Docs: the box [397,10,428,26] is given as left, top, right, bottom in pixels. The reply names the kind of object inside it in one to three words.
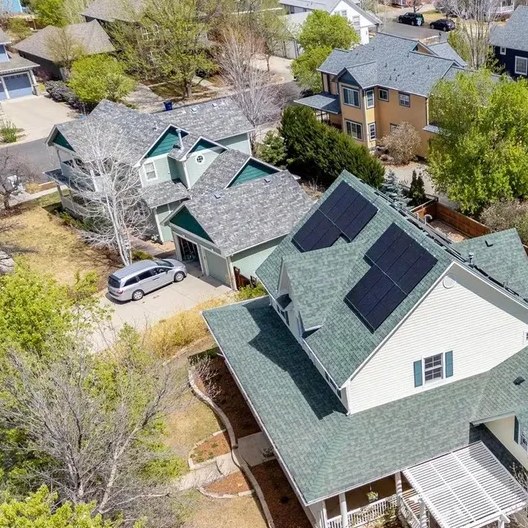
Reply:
car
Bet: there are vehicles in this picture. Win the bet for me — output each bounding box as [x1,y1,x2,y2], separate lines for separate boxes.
[102,257,189,300]
[427,15,457,31]
[397,10,428,26]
